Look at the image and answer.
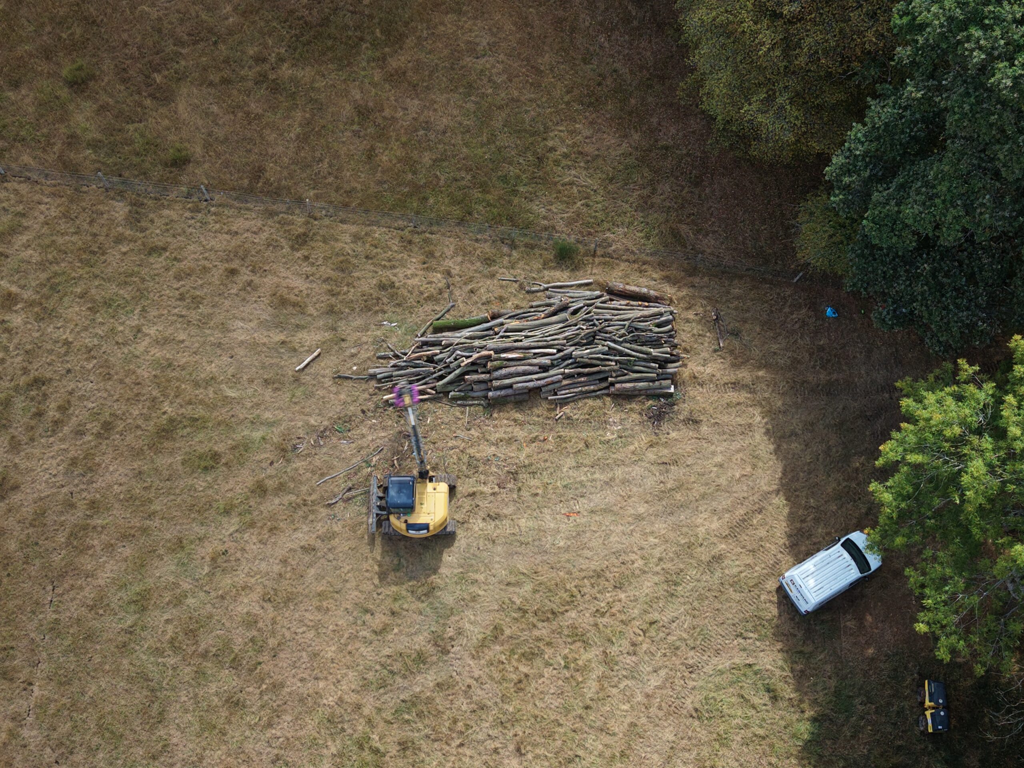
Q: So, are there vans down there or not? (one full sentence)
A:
Yes, the image includes a van.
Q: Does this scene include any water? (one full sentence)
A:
No, no water is visible.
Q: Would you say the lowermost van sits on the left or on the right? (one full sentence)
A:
The lowermost van appears in the right half of the scene.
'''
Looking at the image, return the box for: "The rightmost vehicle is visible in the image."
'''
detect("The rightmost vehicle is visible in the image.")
[777,529,882,616]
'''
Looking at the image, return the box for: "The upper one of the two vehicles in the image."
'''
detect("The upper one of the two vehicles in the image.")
[364,375,458,538]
